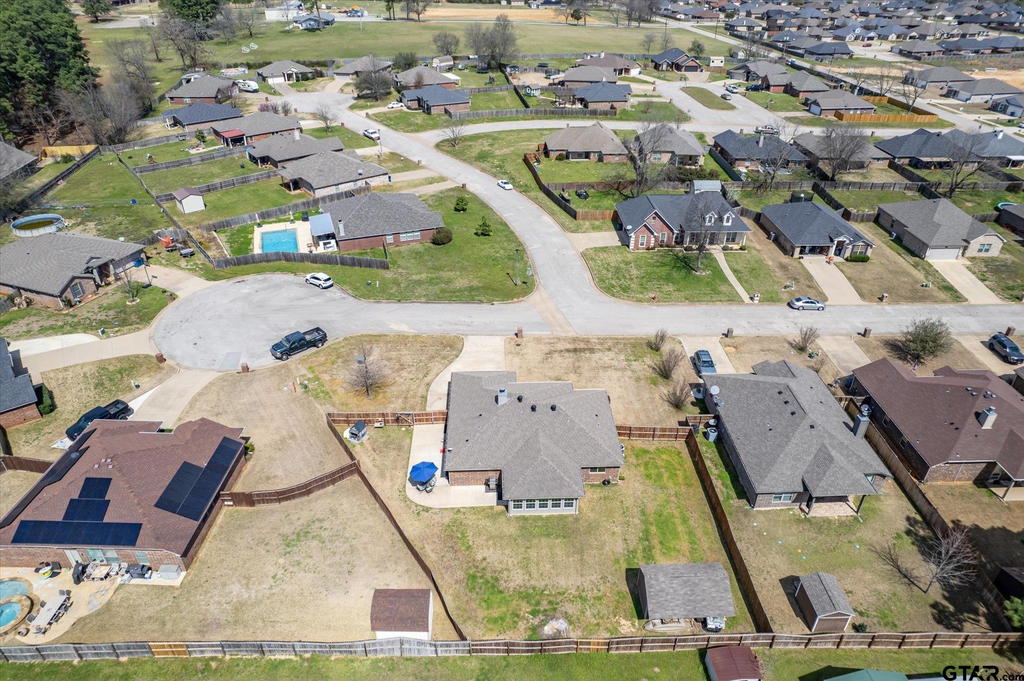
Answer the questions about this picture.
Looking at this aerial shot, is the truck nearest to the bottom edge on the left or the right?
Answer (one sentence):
The truck nearest to the bottom edge sits on the left side.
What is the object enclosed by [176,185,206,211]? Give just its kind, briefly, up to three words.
shed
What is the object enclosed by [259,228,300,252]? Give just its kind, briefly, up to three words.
swimming pool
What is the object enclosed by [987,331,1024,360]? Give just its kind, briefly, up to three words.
car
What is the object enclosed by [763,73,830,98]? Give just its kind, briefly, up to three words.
house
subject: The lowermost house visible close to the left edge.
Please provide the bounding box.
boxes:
[0,415,249,577]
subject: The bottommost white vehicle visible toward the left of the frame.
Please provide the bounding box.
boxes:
[303,272,333,288]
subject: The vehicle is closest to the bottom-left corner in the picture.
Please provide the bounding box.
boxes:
[65,398,129,438]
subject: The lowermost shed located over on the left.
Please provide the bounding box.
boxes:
[370,587,435,658]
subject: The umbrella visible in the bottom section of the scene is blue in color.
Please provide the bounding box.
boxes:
[409,462,438,487]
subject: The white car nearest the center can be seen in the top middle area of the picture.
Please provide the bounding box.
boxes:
[495,177,514,189]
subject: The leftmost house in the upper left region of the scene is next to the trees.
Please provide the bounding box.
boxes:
[0,153,40,191]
